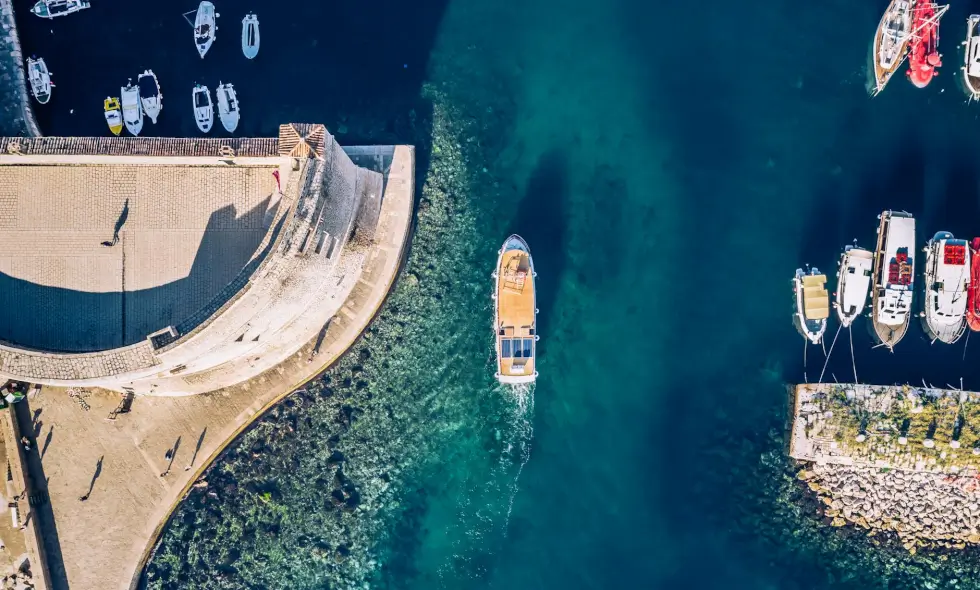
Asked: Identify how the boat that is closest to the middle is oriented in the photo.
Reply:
up and down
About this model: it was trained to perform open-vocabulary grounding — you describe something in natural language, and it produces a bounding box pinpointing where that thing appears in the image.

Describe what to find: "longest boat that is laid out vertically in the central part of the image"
[492,233,540,381]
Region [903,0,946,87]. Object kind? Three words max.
vessel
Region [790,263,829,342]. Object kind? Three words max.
boat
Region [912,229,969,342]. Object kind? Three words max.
boat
